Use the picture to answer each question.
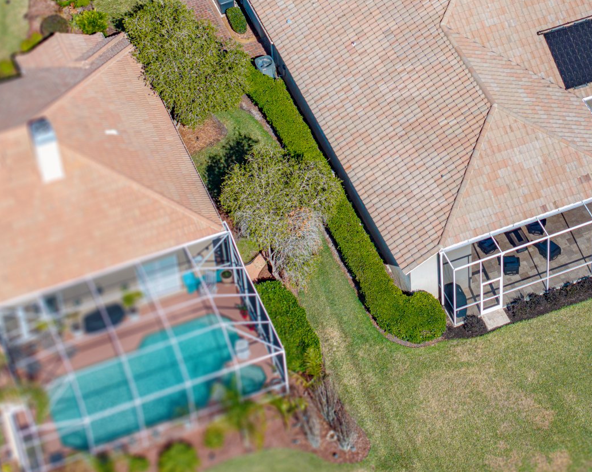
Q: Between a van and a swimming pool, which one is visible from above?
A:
swimming pool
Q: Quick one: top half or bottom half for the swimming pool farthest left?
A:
bottom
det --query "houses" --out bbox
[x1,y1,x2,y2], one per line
[240,0,592,303]
[0,25,228,343]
